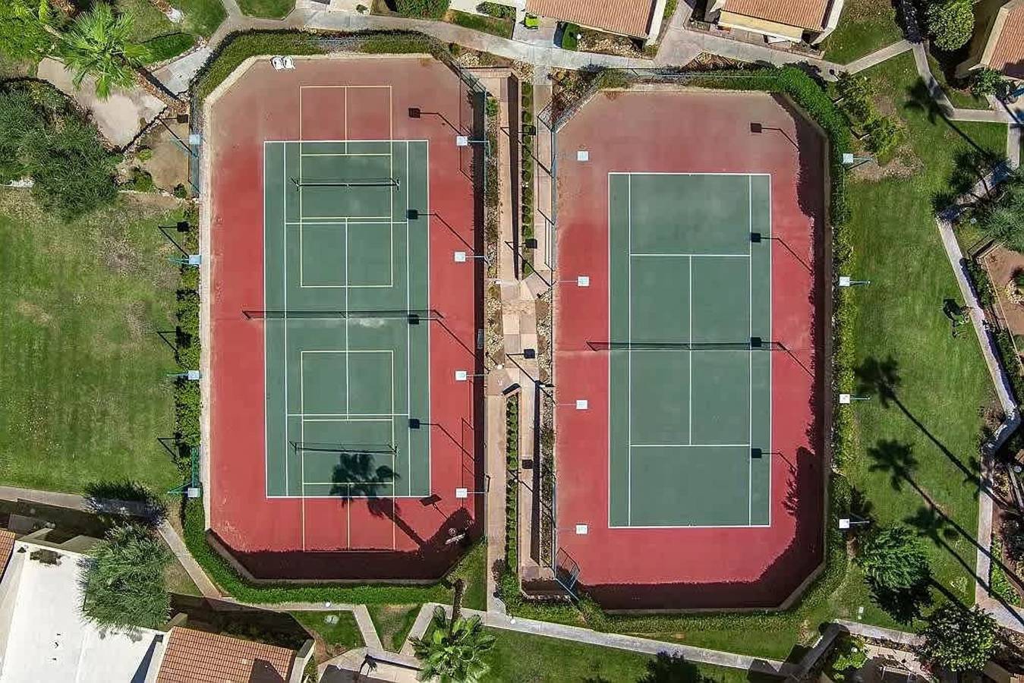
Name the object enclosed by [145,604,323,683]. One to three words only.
house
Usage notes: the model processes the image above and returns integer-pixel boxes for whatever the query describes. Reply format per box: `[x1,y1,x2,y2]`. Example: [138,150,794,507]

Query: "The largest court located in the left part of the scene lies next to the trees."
[210,59,484,578]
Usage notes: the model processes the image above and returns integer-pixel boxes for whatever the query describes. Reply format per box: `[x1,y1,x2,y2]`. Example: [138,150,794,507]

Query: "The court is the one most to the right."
[557,92,824,609]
